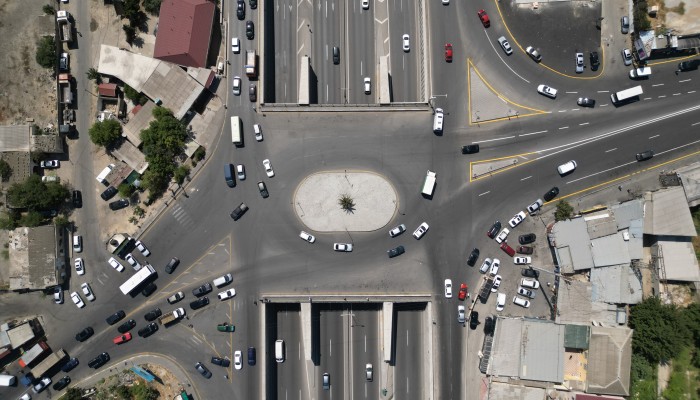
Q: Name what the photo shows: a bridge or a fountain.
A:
bridge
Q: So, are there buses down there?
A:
Yes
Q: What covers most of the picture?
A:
paved ground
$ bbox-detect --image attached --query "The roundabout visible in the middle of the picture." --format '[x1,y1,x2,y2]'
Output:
[294,171,399,233]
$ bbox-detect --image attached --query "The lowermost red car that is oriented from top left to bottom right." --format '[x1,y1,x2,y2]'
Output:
[500,242,515,256]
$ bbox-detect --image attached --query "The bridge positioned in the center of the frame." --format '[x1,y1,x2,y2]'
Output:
[260,103,433,303]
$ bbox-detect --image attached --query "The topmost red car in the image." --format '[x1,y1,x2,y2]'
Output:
[477,10,490,27]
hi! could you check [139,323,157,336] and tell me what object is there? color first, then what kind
black vehicle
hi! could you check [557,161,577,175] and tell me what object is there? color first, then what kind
white car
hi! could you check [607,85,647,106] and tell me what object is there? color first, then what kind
white vehicle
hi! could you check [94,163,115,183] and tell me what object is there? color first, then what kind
white vehicle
